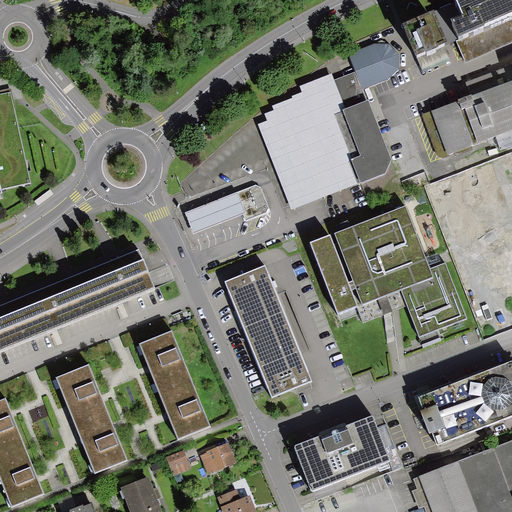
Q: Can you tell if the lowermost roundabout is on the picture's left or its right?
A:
left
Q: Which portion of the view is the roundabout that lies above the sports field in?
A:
top left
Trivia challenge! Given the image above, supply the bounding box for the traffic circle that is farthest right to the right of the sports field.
[85,128,163,204]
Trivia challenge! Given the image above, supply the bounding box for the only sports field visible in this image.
[0,92,30,190]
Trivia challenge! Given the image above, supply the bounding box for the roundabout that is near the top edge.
[0,8,48,66]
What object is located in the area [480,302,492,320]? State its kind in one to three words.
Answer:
vehicle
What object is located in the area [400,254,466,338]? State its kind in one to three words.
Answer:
building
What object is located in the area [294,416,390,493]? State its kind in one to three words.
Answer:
building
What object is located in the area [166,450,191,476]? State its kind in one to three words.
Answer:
house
